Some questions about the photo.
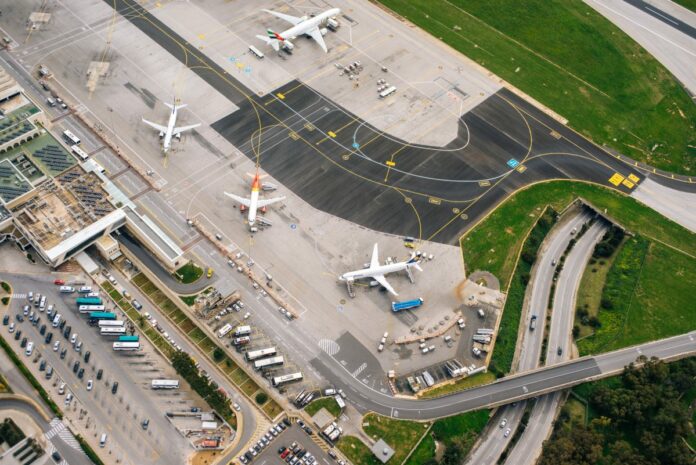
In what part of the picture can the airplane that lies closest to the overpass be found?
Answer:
center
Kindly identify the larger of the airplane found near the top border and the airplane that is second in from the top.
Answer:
the airplane found near the top border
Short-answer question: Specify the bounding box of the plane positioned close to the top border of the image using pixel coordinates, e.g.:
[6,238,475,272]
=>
[254,8,341,52]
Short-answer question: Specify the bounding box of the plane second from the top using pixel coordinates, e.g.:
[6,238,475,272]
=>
[142,97,203,152]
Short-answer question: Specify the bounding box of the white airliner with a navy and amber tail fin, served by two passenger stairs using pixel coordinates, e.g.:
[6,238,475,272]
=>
[343,241,421,296]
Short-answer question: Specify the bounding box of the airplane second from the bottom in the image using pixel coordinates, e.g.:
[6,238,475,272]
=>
[224,167,287,226]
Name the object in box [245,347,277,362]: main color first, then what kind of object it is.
white vehicle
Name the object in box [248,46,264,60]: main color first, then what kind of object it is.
white vehicle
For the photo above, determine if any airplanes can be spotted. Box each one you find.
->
[343,241,421,296]
[254,8,341,52]
[224,167,287,226]
[142,97,203,152]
